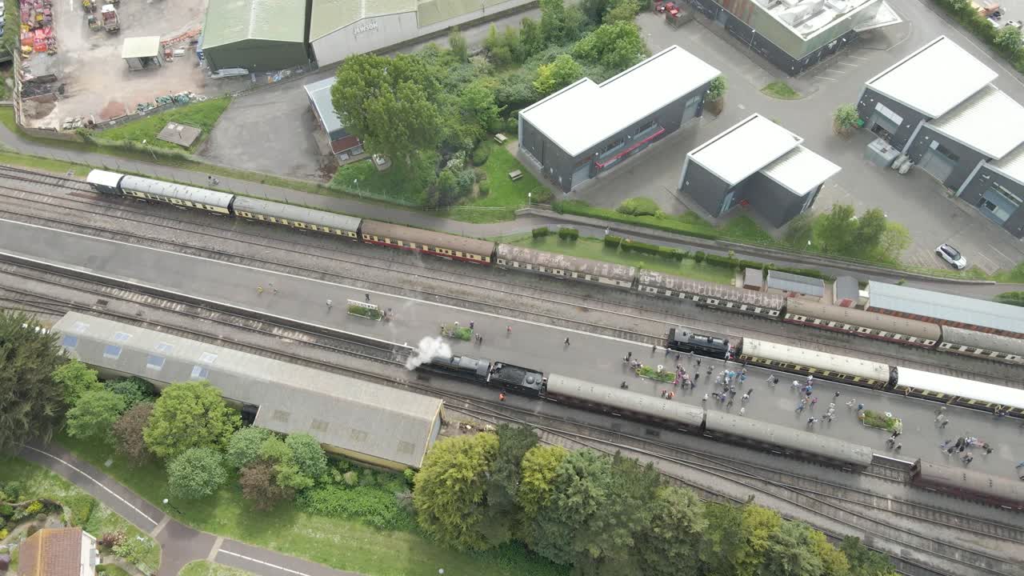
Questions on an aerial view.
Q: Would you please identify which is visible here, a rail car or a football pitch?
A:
rail car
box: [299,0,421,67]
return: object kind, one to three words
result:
building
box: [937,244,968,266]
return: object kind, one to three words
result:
car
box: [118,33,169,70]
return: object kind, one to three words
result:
shed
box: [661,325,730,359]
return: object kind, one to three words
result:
rail car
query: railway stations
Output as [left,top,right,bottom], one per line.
[0,219,1024,480]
